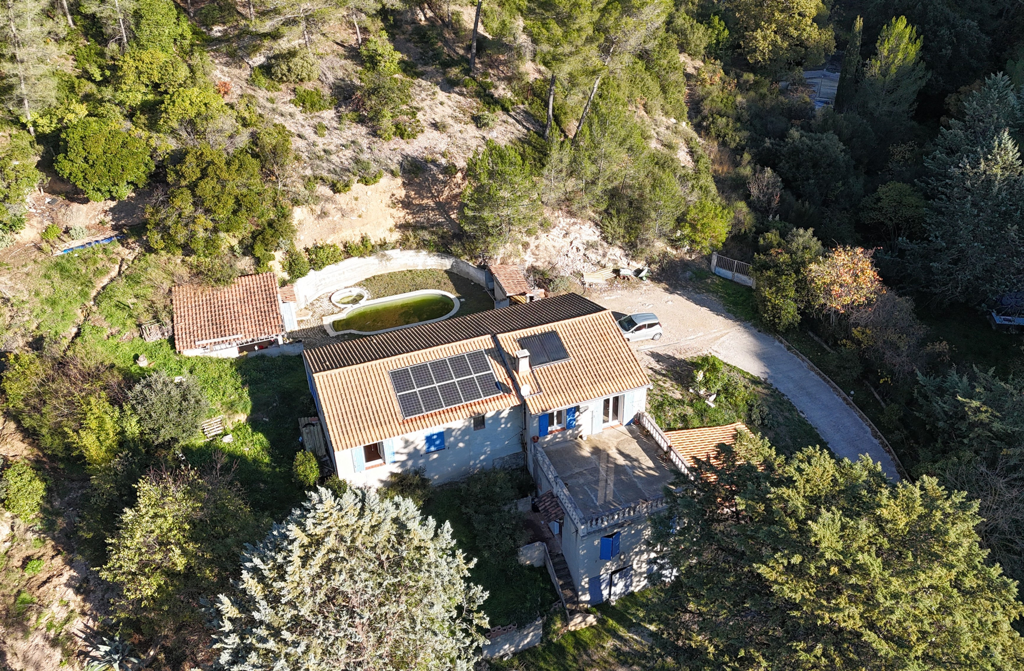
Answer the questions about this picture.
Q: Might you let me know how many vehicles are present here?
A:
one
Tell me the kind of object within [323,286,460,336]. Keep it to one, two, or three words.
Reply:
swimming pool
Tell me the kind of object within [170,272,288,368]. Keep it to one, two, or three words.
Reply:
shed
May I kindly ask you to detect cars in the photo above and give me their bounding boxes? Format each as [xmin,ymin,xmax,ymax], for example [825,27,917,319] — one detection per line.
[616,314,666,345]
